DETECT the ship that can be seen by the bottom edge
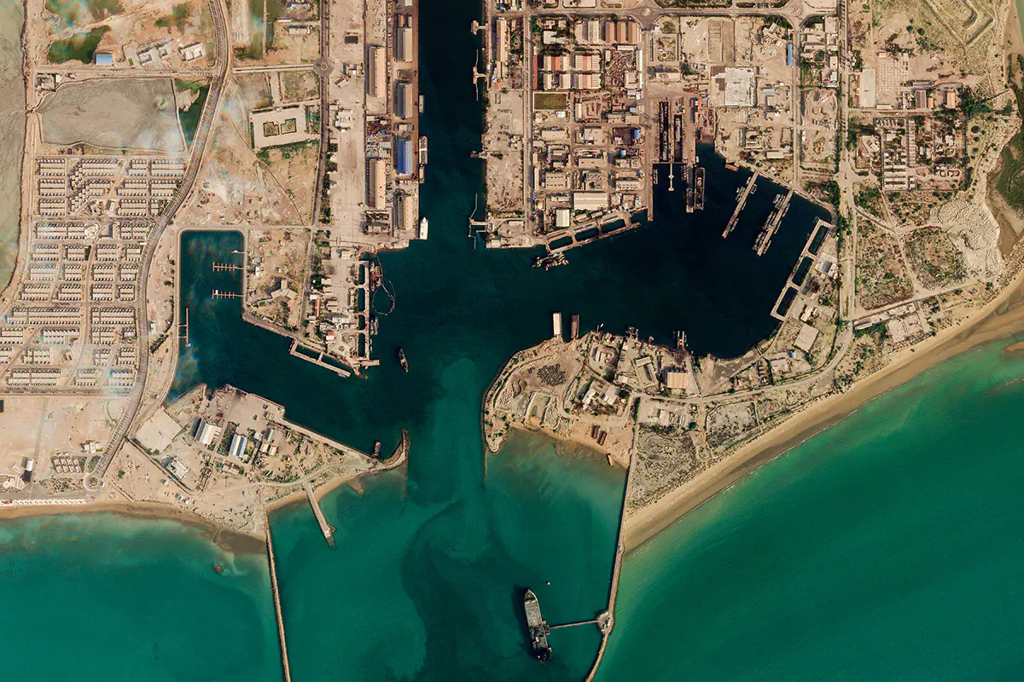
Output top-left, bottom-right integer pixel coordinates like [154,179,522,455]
[526,590,549,662]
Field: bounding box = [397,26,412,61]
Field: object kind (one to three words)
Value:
shed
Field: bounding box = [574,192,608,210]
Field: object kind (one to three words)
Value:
building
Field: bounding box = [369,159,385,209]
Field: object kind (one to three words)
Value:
shed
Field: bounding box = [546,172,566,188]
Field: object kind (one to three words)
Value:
building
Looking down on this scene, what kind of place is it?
port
